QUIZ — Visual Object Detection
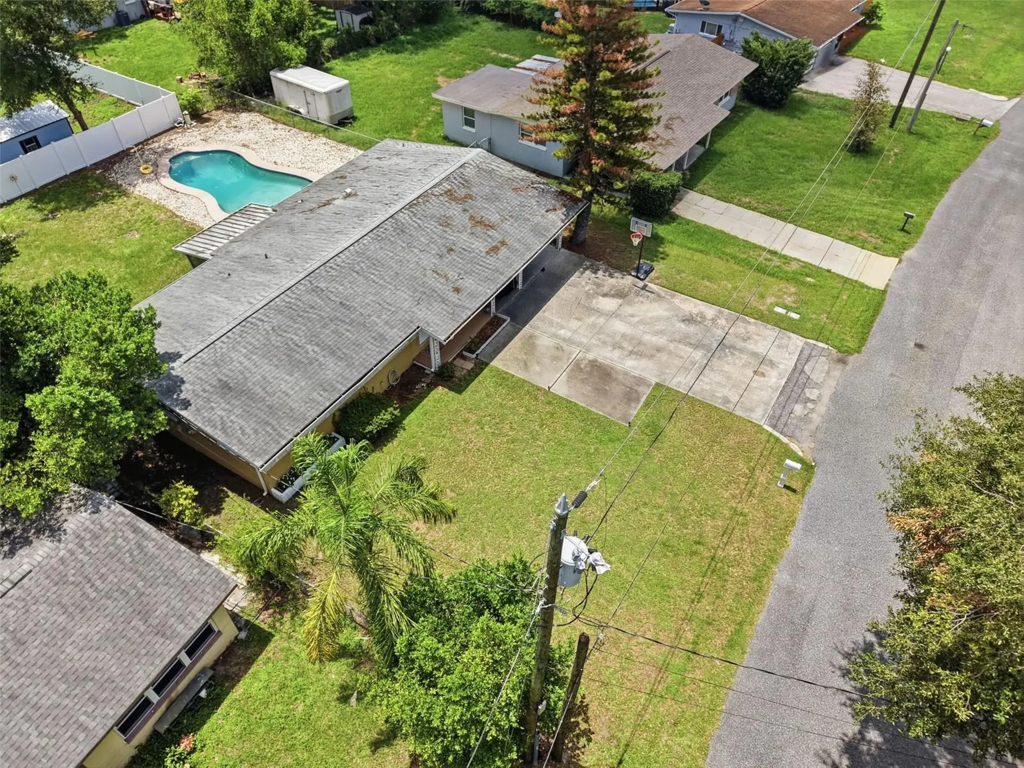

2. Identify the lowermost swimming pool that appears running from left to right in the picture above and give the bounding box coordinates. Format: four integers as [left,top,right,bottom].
[157,144,320,219]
